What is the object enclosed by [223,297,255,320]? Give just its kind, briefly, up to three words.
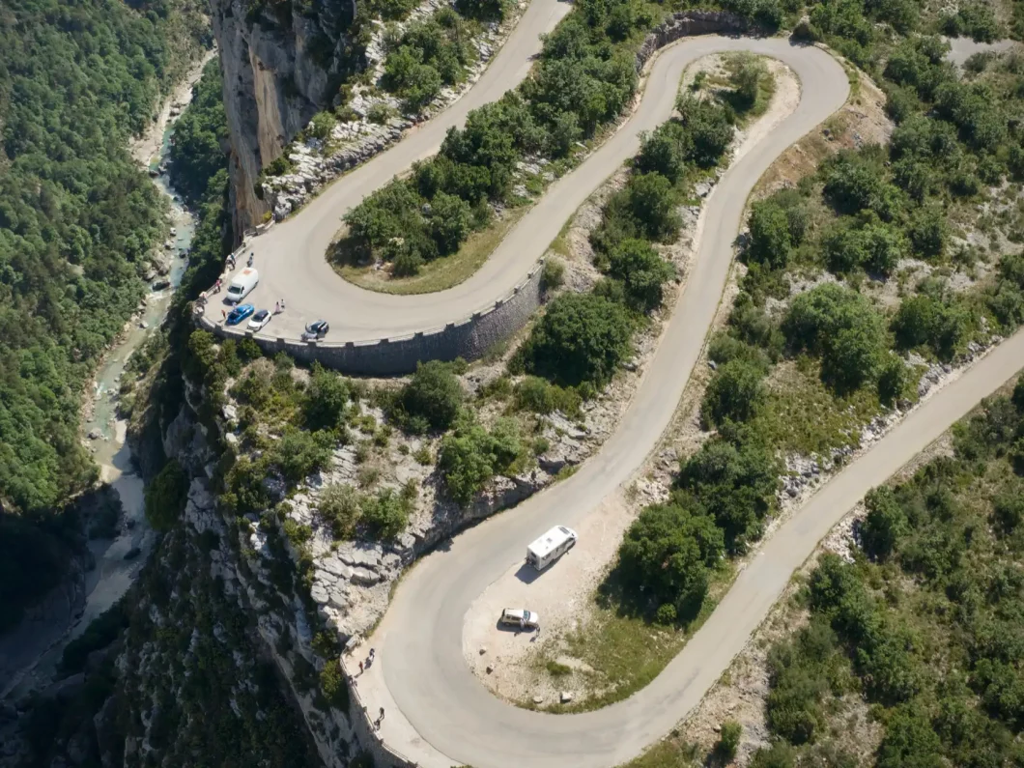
car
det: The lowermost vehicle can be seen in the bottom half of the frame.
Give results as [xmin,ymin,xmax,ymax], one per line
[501,605,539,627]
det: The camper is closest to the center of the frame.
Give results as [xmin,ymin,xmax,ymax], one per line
[526,529,576,569]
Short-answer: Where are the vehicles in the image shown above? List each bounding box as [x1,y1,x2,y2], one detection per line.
[501,605,539,627]
[228,263,261,300]
[223,297,255,320]
[526,529,576,569]
[246,304,274,329]
[299,313,329,338]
